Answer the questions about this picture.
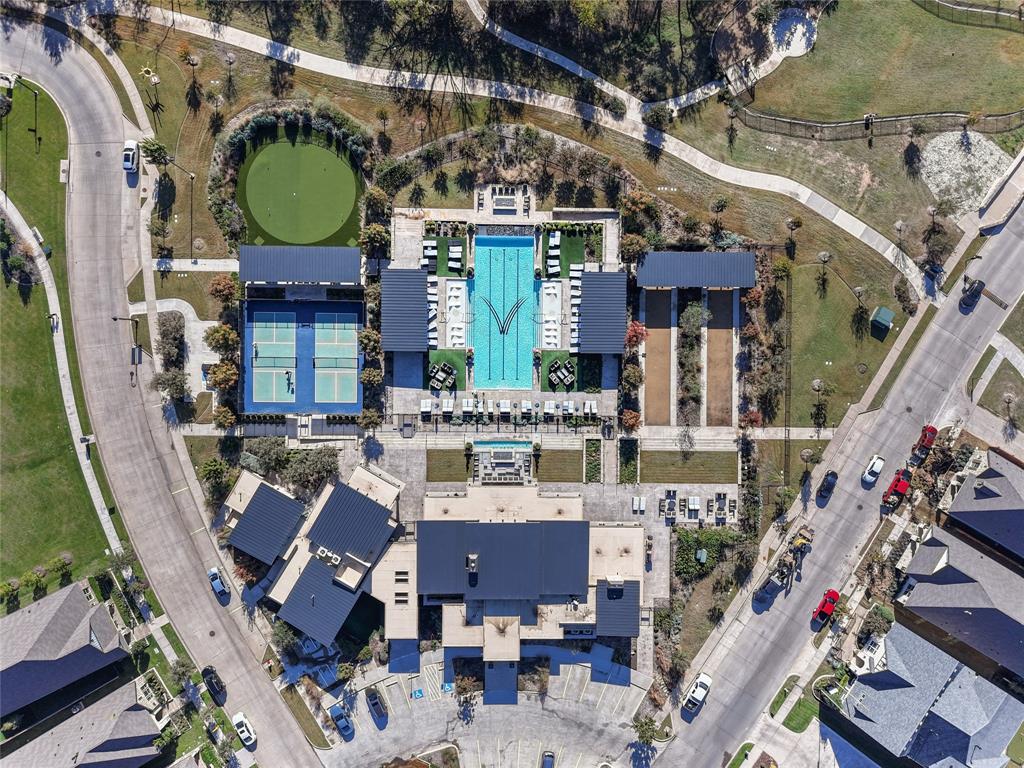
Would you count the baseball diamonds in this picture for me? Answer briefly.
zero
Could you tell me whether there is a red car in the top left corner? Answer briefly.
No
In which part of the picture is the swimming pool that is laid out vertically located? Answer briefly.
center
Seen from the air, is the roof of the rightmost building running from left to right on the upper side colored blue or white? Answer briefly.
blue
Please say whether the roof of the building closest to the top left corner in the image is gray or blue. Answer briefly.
blue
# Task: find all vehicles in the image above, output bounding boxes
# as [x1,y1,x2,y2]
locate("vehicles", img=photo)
[814,589,841,626]
[817,468,840,500]
[119,139,137,172]
[790,526,816,555]
[200,667,225,701]
[863,454,888,485]
[541,752,556,768]
[329,705,355,742]
[205,567,230,600]
[365,689,388,722]
[961,276,987,308]
[230,715,255,748]
[683,674,712,717]
[884,468,914,508]
[755,574,786,615]
[911,421,942,461]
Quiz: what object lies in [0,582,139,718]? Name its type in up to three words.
house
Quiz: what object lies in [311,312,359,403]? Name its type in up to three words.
sports court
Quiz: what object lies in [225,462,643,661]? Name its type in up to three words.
building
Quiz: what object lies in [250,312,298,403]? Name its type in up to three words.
sports court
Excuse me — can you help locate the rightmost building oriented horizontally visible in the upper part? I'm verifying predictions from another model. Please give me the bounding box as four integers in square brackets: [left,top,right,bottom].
[637,252,756,291]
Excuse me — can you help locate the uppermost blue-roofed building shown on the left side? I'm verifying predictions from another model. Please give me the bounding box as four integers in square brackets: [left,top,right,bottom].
[237,246,361,288]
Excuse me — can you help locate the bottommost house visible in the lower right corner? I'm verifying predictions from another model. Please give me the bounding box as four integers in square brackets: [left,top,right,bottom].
[836,622,1024,768]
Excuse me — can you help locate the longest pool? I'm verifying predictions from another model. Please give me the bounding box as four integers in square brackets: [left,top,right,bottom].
[472,225,536,391]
